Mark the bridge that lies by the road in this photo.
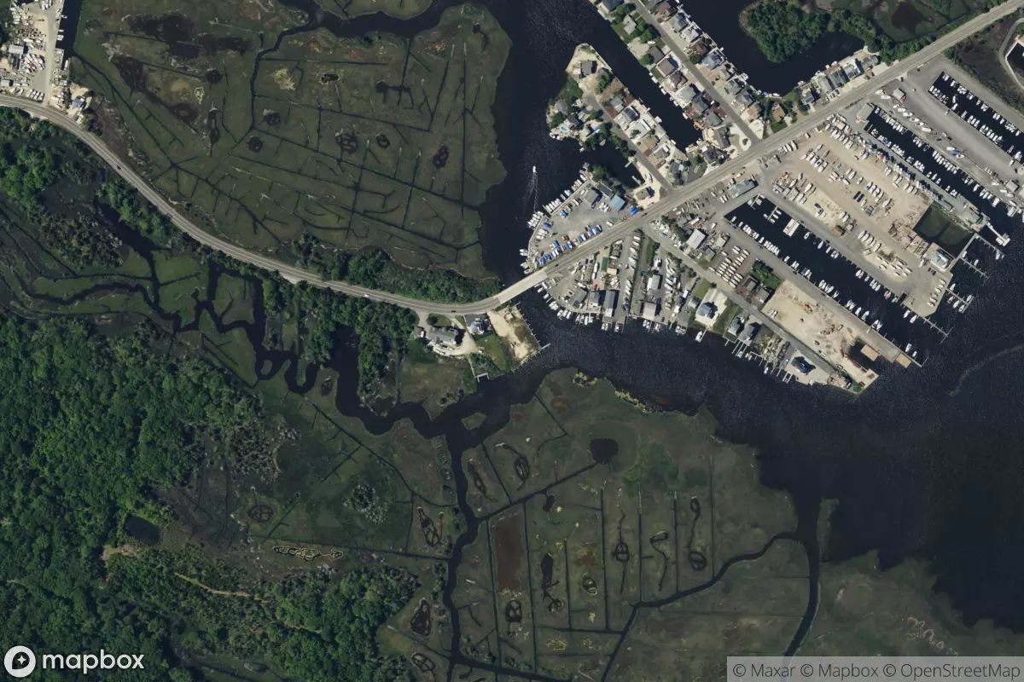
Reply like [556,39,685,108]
[495,265,551,304]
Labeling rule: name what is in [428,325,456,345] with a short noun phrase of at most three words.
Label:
house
